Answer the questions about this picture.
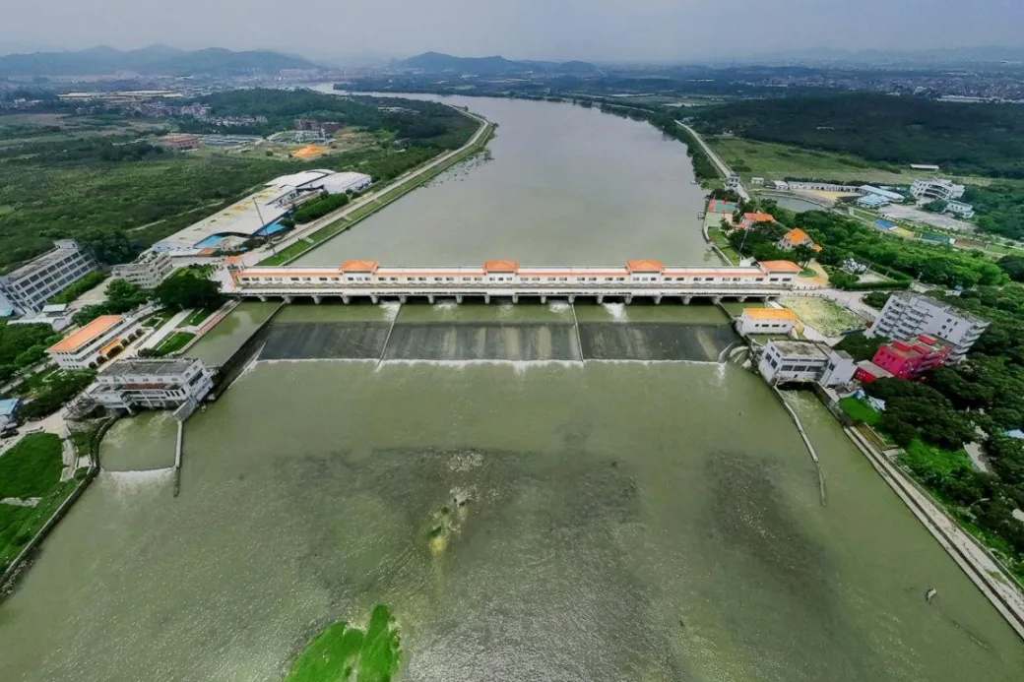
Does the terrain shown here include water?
Yes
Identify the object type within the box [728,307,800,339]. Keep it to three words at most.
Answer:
building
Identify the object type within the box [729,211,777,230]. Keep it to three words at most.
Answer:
house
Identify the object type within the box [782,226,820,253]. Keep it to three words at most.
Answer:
house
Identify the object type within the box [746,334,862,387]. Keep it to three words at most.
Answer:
building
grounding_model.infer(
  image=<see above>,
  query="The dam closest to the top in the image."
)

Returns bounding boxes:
[228,260,811,304]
